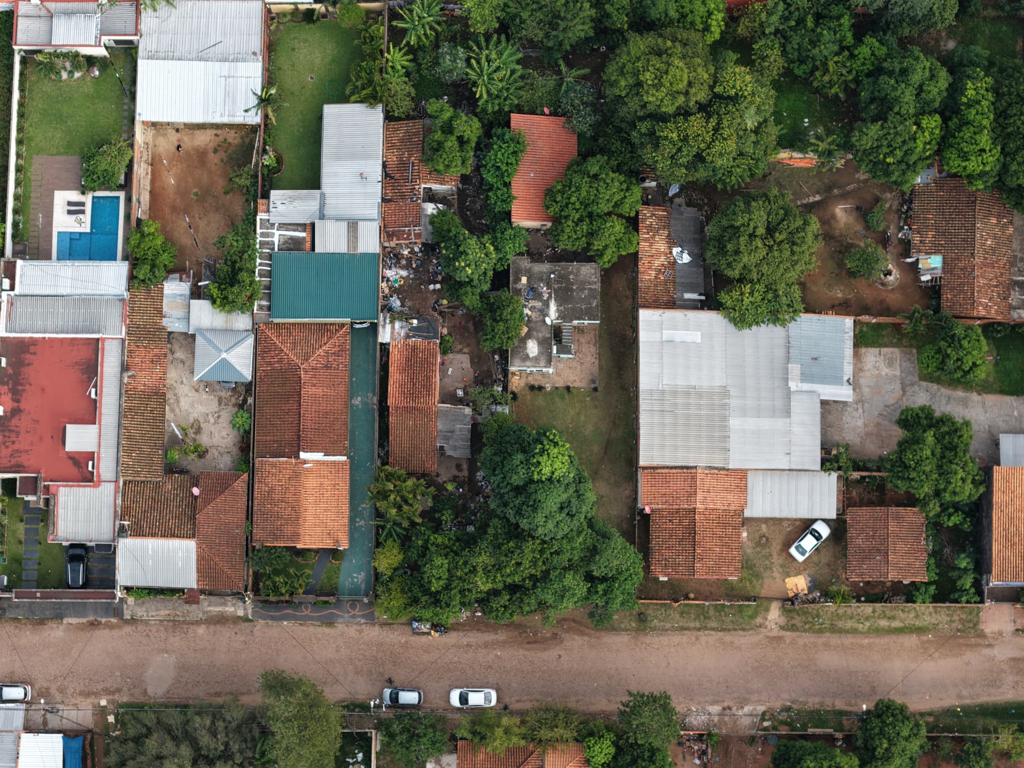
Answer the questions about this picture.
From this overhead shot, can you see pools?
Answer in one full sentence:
Yes, a pool is visible in the scene.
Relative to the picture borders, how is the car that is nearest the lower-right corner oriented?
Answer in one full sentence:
Seen from above, the car that is nearest the lower-right corner lies diagonally.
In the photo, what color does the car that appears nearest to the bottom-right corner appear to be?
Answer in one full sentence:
From above, the car that appears nearest to the bottom-right corner appears white.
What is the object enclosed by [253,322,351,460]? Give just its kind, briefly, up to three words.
house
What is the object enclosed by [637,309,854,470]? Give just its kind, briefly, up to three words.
shed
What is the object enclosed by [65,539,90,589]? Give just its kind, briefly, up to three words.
car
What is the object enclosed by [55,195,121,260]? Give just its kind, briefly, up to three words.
swimming pool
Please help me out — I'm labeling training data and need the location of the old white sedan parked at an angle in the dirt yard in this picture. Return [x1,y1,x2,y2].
[790,519,829,563]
